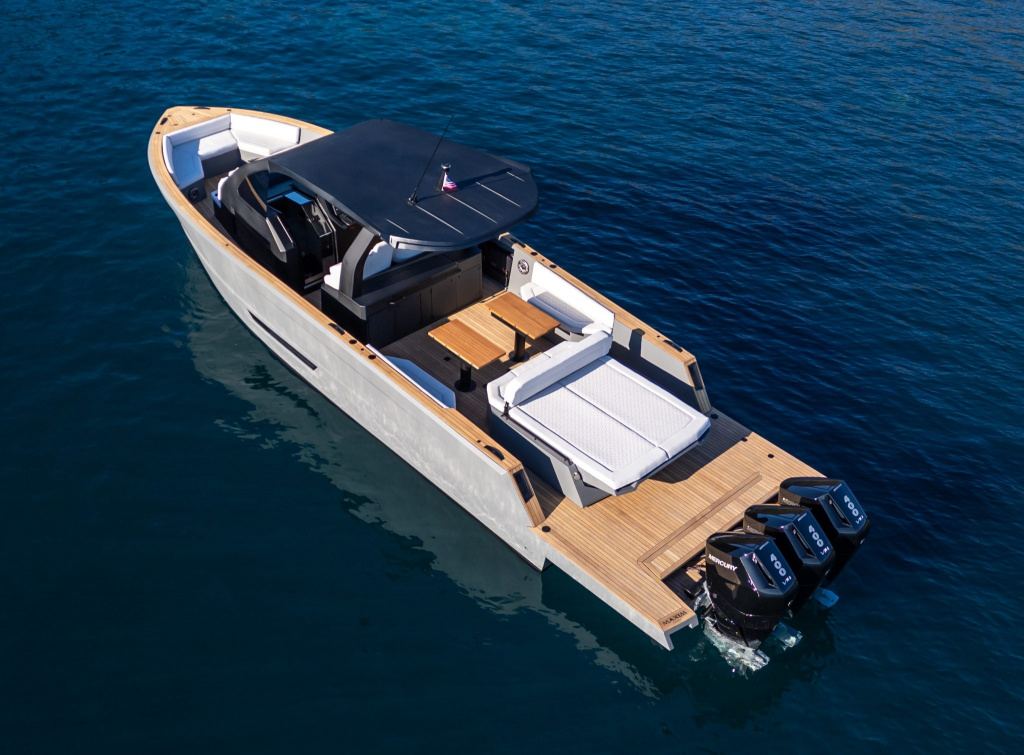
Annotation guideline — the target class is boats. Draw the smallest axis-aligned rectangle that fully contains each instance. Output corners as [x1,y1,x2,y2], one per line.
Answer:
[148,106,824,651]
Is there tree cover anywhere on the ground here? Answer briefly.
No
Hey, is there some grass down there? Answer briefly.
No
